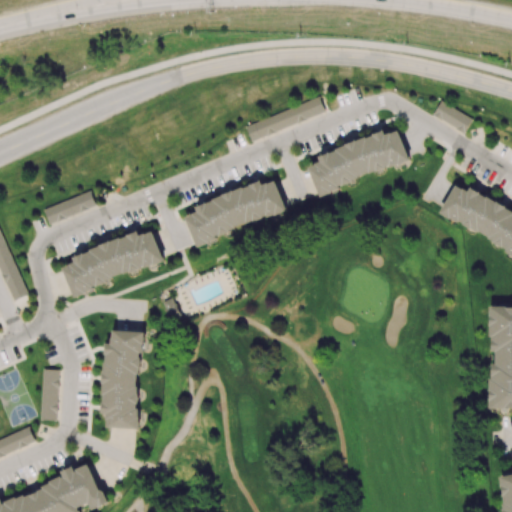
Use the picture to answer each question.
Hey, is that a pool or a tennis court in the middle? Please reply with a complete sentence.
What appears in the middle is a pool.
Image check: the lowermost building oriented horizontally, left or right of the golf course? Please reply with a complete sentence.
Relative to the golf course, the lowermost building oriented horizontally is on the left.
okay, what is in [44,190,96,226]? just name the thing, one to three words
building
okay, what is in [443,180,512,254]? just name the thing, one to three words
building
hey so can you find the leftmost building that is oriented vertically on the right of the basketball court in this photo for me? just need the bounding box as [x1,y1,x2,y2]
[44,369,60,421]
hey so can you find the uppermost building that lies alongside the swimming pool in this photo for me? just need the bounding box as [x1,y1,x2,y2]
[186,180,287,247]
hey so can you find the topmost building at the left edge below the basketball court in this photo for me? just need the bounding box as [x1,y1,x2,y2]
[0,426,35,456]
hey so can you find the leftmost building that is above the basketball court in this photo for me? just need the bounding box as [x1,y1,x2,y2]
[0,235,28,301]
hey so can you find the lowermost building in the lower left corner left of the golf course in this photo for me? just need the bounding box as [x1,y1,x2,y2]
[0,466,98,512]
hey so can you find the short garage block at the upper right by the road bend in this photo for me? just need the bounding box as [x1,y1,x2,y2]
[435,101,474,132]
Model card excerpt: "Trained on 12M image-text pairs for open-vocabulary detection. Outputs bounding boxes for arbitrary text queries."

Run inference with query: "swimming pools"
[178,266,238,316]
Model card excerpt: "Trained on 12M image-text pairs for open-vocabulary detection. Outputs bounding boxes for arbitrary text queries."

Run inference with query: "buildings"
[443,180,512,254]
[0,235,28,301]
[497,480,512,512]
[44,369,60,421]
[44,190,96,226]
[62,230,162,298]
[246,94,326,143]
[435,101,474,132]
[99,330,142,430]
[186,180,287,247]
[485,310,512,408]
[0,426,35,456]
[0,466,98,512]
[311,130,412,196]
